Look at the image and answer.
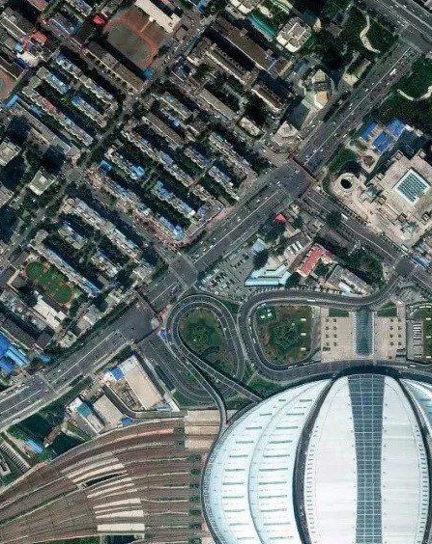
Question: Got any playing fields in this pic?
Yes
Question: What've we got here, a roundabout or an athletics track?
athletics track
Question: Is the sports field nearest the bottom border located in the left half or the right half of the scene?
left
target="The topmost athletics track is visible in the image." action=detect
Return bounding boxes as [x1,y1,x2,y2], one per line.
[105,18,158,70]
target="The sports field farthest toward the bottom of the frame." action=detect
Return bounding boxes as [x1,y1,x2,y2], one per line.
[21,260,82,313]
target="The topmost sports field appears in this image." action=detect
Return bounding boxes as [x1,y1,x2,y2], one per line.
[109,21,155,67]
